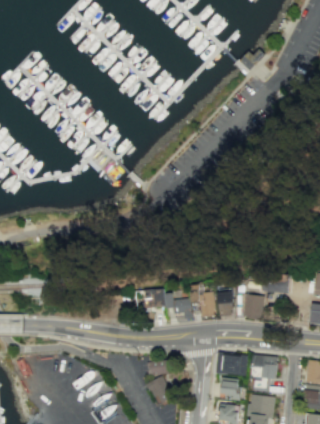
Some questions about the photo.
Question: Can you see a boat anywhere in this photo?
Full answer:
Yes, the photo shows a boat.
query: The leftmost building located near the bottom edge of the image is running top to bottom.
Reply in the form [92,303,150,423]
[147,361,167,405]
